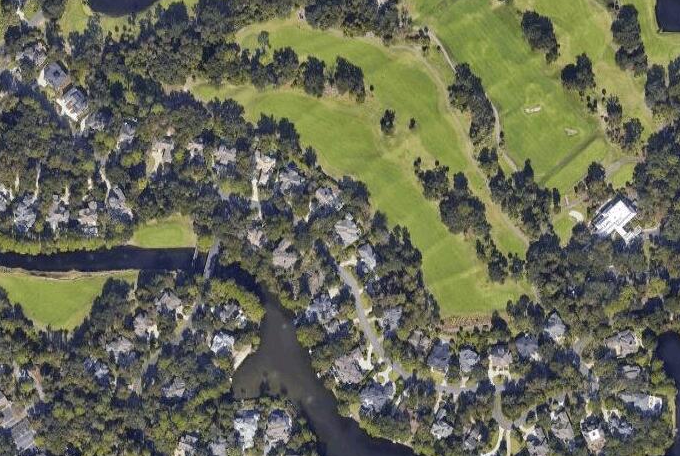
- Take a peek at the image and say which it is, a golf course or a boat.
golf course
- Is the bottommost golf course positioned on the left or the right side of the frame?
left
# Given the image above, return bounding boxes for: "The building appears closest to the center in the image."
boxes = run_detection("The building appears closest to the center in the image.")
[333,215,363,246]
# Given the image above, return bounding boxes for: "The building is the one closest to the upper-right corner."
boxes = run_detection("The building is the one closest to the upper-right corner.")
[593,197,646,240]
